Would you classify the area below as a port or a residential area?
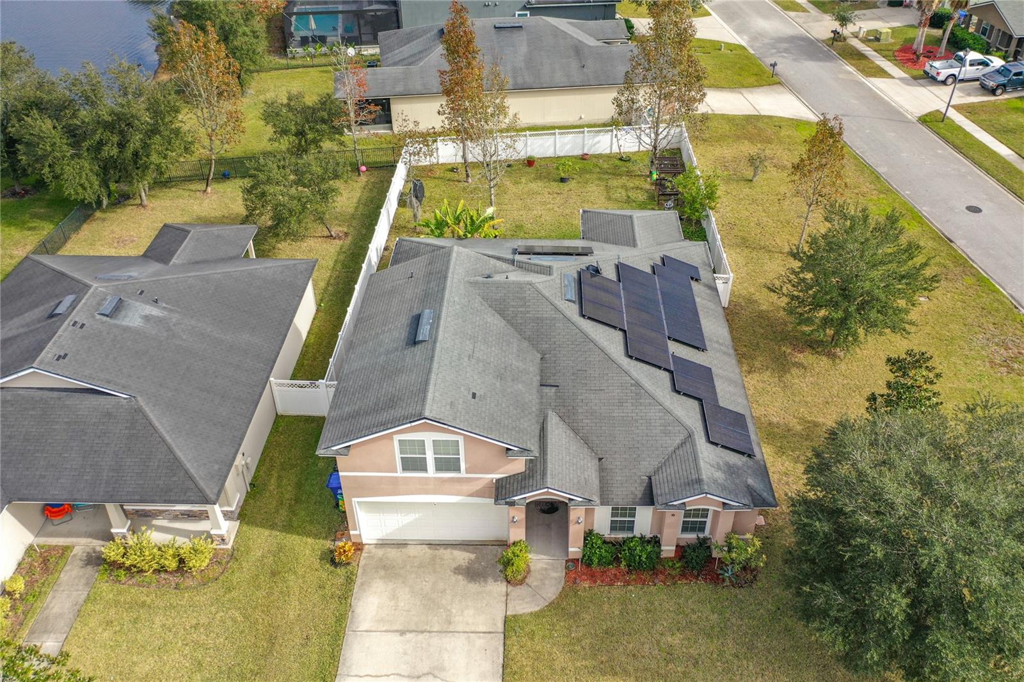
residential area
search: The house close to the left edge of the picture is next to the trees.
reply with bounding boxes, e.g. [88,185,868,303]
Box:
[0,224,319,604]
